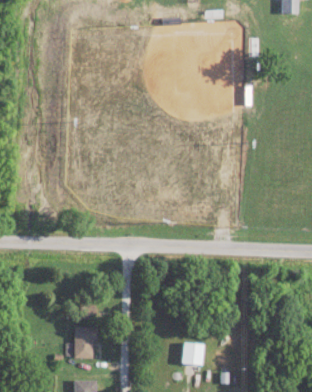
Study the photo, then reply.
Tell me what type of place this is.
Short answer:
sports ground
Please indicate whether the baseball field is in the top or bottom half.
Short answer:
top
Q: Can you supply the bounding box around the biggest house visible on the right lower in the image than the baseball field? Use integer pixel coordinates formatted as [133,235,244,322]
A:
[182,342,204,367]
